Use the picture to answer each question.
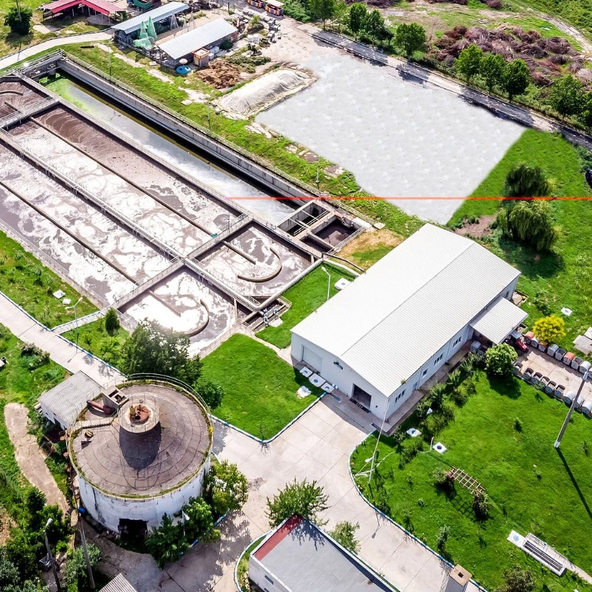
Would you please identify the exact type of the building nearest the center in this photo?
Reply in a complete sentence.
The building nearest the center in the image is a warehouse.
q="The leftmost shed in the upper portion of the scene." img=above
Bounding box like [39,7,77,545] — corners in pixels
[41,0,124,27]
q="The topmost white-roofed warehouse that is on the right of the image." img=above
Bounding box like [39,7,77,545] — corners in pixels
[290,218,529,422]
